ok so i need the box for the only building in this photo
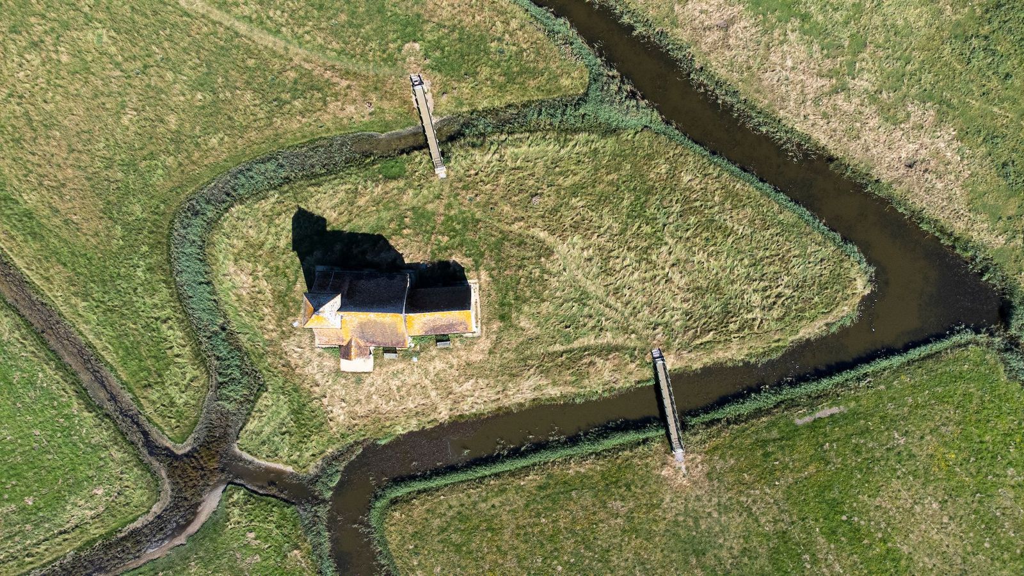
[304,273,478,361]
